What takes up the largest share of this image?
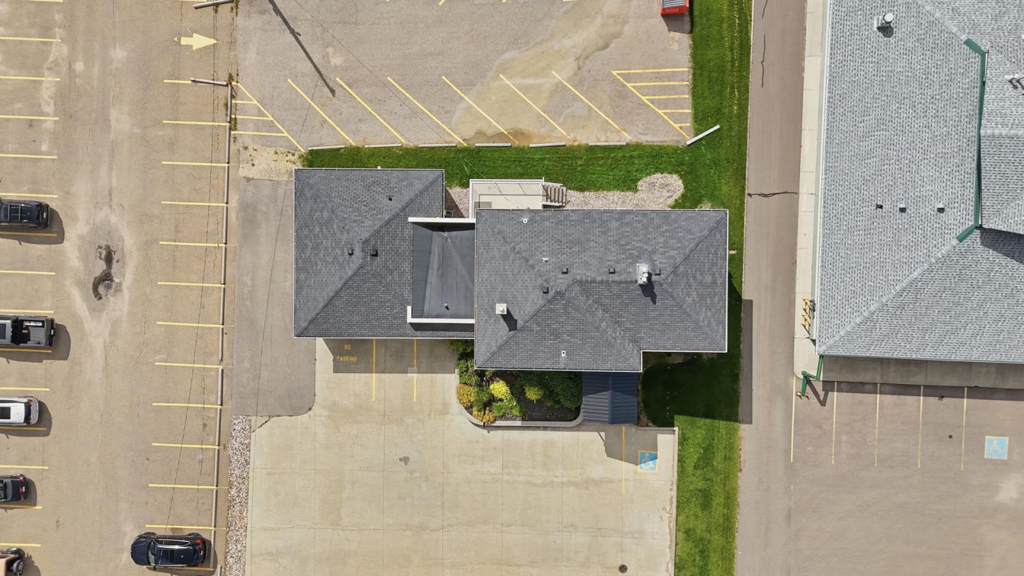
paved ground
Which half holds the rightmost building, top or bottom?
top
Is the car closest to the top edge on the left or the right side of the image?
left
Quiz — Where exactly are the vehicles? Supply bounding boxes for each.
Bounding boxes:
[0,314,58,347]
[0,473,31,503]
[0,200,51,229]
[0,396,41,426]
[133,532,208,570]
[0,546,22,576]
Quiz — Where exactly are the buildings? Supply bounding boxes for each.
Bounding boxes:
[294,166,475,338]
[475,209,728,371]
[813,0,1024,363]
